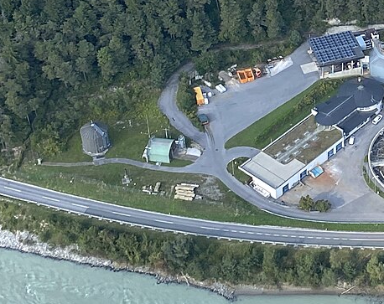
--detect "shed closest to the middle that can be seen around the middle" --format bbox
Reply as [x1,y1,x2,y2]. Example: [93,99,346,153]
[140,137,176,166]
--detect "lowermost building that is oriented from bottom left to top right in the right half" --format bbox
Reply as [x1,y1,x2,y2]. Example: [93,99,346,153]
[236,78,384,201]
